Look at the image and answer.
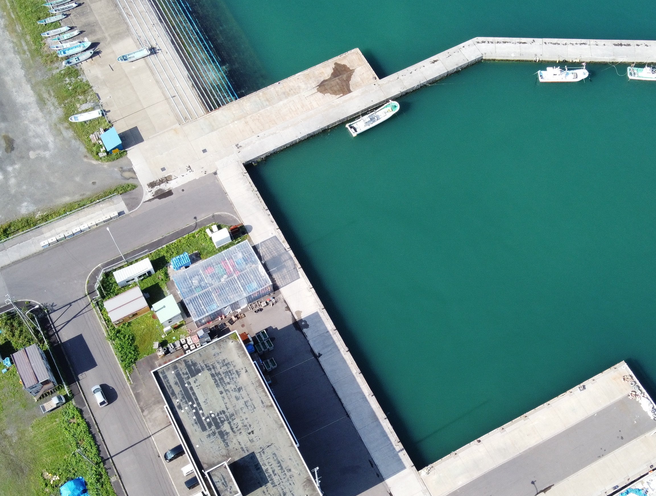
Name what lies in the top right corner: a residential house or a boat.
boat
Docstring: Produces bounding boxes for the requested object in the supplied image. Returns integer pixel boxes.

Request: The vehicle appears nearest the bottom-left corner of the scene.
[41,394,64,411]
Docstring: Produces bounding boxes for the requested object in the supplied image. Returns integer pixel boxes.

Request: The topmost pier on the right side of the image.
[219,38,656,171]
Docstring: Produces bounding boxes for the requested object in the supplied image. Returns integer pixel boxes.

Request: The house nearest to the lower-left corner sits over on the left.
[12,344,62,407]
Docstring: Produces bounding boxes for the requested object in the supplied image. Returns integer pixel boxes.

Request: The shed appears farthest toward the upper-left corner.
[98,126,127,158]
